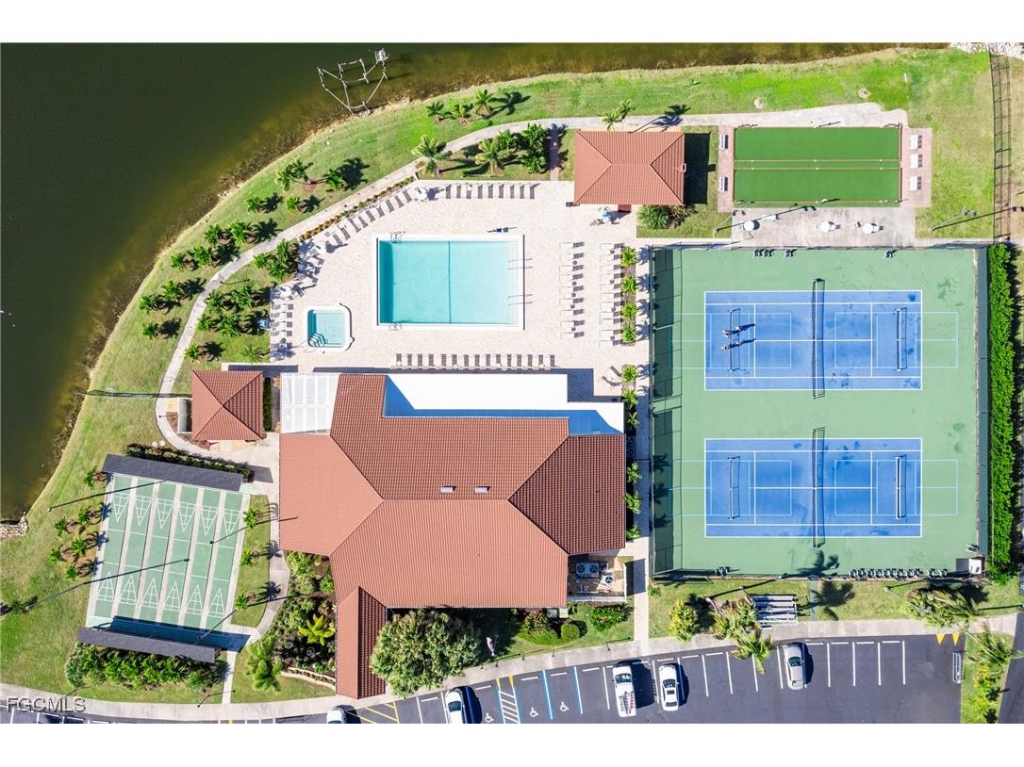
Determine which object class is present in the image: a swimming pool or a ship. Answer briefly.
swimming pool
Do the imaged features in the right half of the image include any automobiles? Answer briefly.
Yes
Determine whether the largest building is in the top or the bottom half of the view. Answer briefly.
bottom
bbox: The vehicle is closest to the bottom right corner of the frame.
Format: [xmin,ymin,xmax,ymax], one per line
[781,642,805,688]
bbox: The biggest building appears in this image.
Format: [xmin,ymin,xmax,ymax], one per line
[279,373,626,699]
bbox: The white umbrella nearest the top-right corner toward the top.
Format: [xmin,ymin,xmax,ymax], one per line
[598,209,612,223]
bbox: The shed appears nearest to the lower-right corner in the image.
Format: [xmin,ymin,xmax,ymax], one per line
[961,559,986,579]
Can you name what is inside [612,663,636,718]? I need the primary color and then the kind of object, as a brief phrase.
white vehicle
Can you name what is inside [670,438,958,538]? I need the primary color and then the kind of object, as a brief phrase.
blue tennis court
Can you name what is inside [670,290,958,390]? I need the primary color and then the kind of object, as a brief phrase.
blue tennis court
